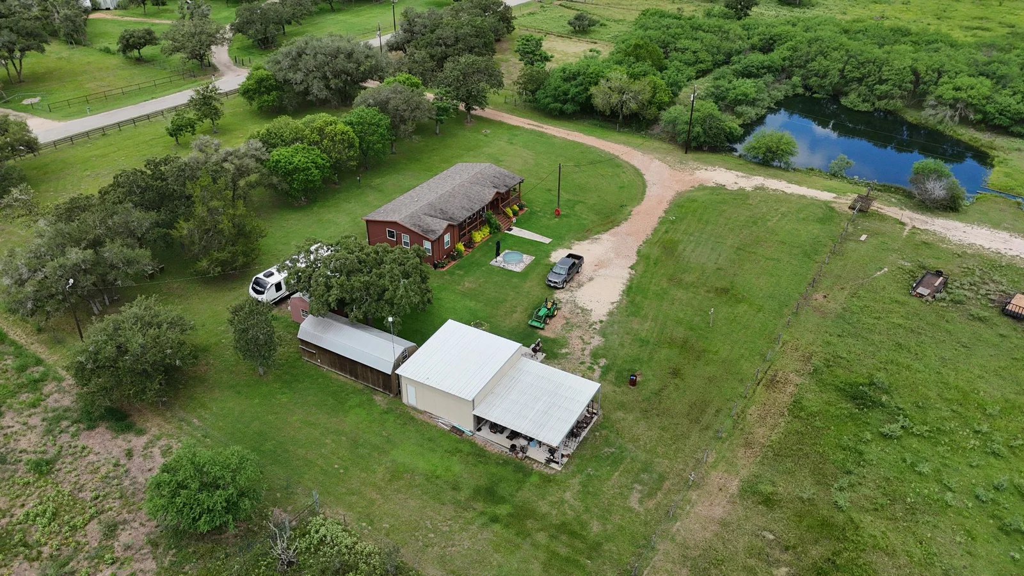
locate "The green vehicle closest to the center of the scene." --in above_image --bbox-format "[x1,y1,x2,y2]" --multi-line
[529,293,560,329]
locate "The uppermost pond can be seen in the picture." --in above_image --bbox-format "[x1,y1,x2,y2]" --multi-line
[729,98,1024,202]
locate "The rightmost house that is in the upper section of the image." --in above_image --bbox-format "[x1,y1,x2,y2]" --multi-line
[361,162,522,261]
